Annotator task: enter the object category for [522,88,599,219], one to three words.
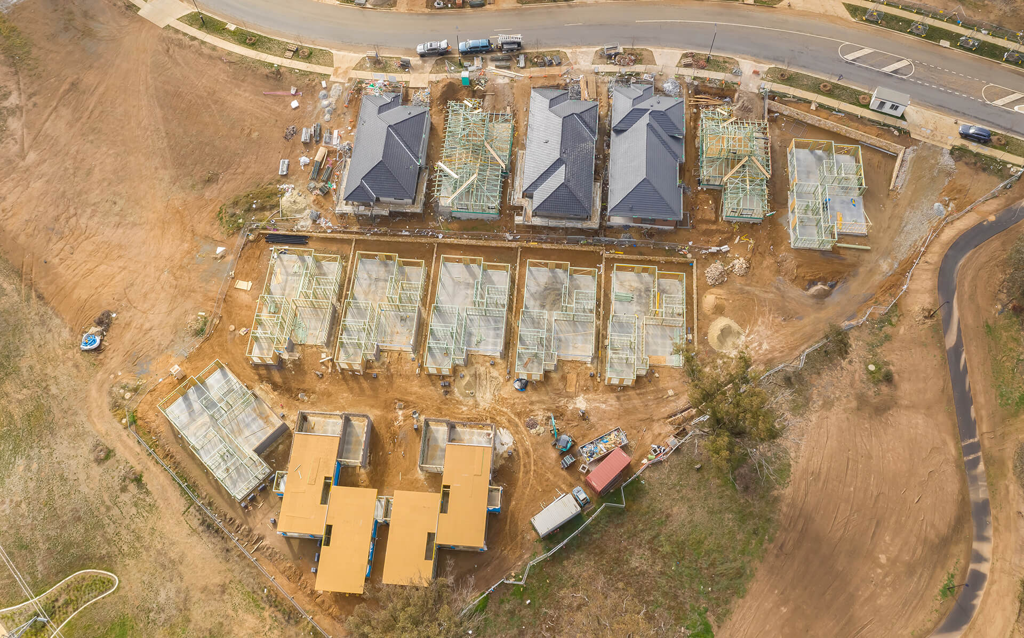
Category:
house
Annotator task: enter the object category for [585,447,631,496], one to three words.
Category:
shipping container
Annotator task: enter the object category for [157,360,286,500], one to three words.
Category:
house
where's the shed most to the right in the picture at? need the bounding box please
[871,86,910,116]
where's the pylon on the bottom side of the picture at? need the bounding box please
[7,615,48,638]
